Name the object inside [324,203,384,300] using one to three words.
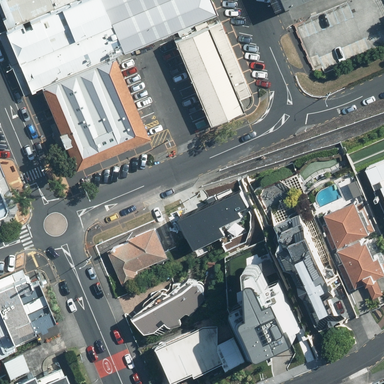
house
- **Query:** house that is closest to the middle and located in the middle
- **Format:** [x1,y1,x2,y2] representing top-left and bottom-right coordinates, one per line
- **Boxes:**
[168,190,250,256]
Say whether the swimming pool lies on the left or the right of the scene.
right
